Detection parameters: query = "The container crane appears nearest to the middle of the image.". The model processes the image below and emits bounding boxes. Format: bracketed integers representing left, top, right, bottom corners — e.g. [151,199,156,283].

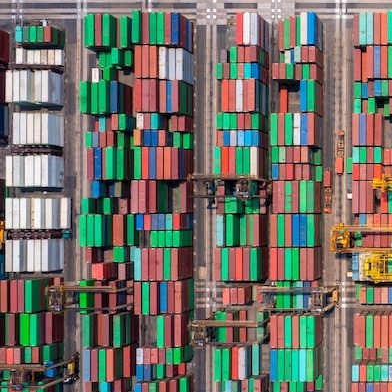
[186,173,278,204]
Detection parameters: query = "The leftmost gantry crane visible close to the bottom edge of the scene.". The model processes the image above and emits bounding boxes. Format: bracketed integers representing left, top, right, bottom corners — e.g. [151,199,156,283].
[0,350,83,392]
